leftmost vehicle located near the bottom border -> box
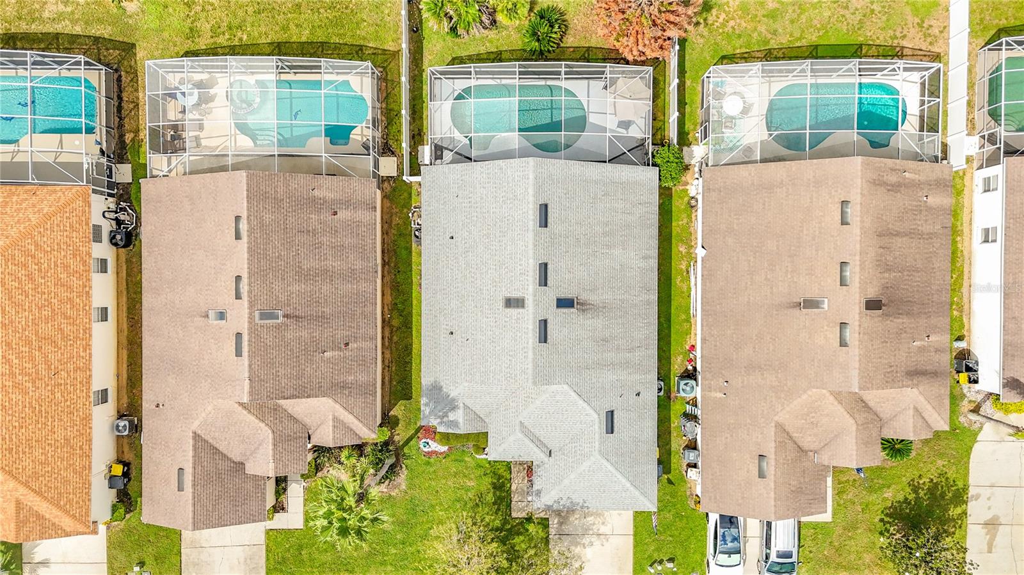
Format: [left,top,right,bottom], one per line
[704,513,748,575]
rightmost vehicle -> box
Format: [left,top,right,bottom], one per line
[757,518,804,575]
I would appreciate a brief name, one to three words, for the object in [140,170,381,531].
house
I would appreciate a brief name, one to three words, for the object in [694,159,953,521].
house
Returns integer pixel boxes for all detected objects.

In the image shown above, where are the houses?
[694,159,953,521]
[420,158,659,512]
[970,156,1024,403]
[0,185,117,541]
[140,170,381,531]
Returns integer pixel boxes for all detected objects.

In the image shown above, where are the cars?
[704,513,748,575]
[757,518,804,575]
